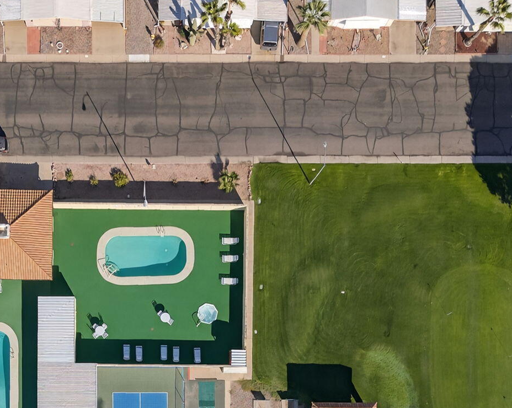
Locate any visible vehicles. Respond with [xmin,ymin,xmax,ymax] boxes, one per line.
[0,136,8,155]
[262,19,280,49]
